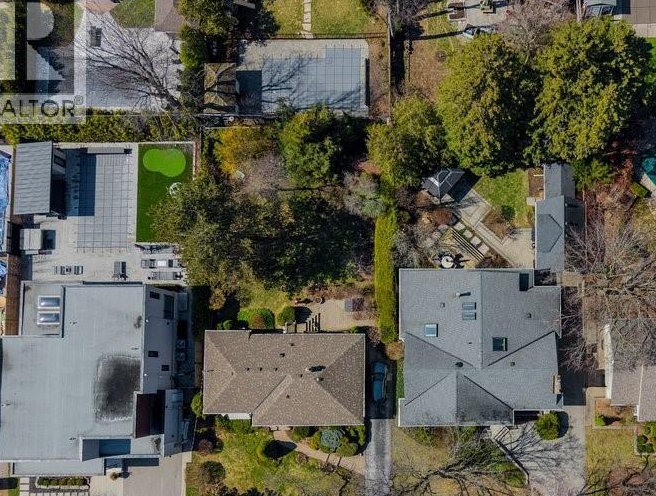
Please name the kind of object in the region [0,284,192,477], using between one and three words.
house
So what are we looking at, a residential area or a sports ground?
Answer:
residential area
